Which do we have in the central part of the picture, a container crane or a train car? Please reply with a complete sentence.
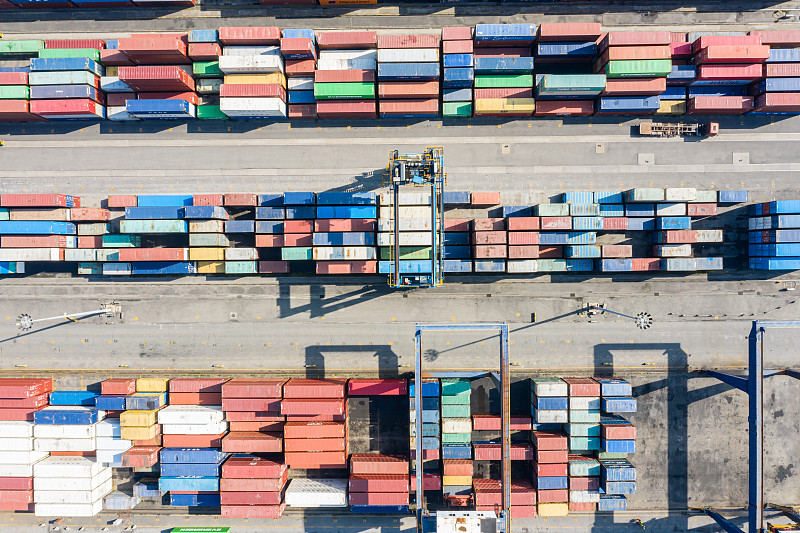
It is a container crane that can be seen in the central part of the picture.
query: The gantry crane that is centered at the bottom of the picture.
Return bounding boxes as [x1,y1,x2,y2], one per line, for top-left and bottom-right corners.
[403,327,510,533]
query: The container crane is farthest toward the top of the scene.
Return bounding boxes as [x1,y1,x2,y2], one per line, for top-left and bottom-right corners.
[380,142,449,291]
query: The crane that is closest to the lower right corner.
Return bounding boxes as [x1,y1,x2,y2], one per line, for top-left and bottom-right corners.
[694,326,800,533]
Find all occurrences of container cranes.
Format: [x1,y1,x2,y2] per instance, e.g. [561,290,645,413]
[694,326,800,533]
[380,142,449,291]
[403,327,510,533]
